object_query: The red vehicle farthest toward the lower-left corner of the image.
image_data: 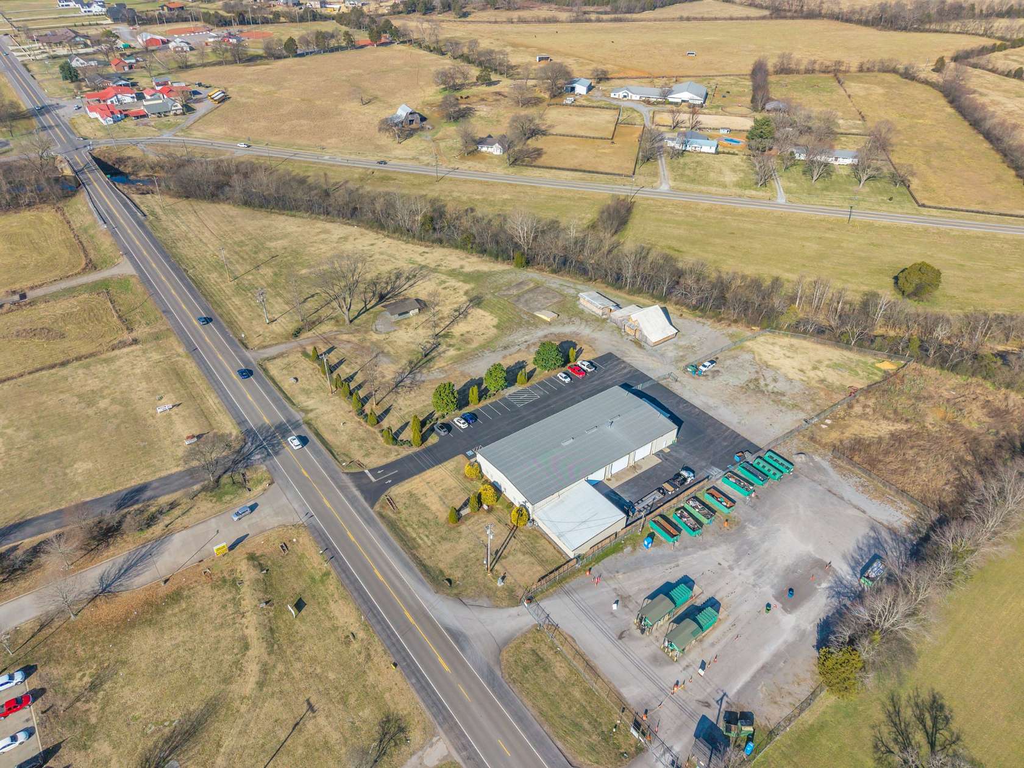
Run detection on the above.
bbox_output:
[0,691,33,720]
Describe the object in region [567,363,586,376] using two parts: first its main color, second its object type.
red vehicle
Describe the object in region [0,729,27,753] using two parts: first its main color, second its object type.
white car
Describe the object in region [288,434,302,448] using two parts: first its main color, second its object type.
white car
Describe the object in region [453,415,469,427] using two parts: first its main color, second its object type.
white vehicle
